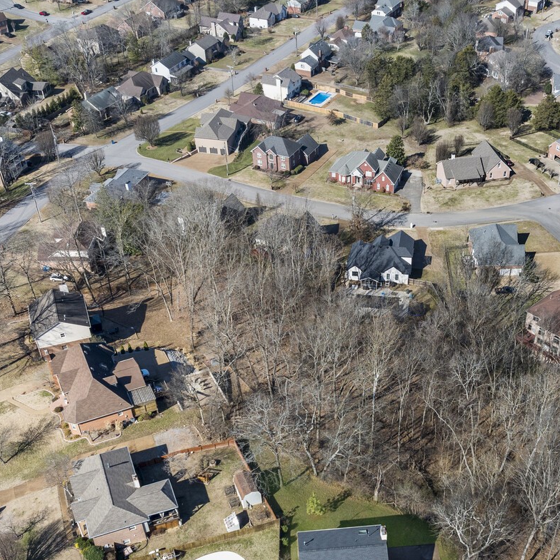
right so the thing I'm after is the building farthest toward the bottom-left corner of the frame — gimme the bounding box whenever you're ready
[66,445,182,547]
